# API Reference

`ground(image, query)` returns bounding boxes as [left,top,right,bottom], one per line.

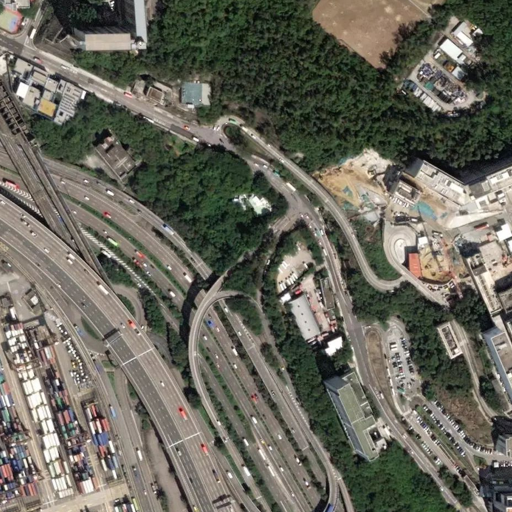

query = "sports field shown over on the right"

[312,0,435,68]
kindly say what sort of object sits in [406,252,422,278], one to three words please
shed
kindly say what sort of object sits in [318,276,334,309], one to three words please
house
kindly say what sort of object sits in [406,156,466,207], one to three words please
building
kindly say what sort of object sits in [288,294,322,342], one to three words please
building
